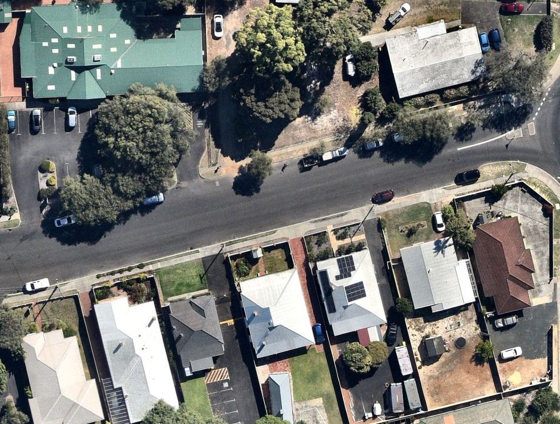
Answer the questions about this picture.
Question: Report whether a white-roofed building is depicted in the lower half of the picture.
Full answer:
Yes, I can see a white-roofed building in the lower half of the picture.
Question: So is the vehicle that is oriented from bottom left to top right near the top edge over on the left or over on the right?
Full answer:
It is on the right.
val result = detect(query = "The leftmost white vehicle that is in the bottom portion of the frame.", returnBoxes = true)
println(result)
[26,278,50,291]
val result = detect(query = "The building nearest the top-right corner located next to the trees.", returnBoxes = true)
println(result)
[385,21,487,99]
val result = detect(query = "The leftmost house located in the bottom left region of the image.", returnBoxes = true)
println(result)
[24,329,104,424]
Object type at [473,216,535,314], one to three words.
house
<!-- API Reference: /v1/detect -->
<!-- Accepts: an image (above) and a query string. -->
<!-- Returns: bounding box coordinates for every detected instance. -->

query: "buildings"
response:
[0,0,13,22]
[93,296,178,424]
[239,268,315,358]
[24,329,104,424]
[473,216,535,314]
[316,249,387,346]
[385,21,487,99]
[269,373,293,424]
[19,2,203,99]
[425,336,447,357]
[411,397,514,424]
[399,238,479,313]
[168,294,225,373]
